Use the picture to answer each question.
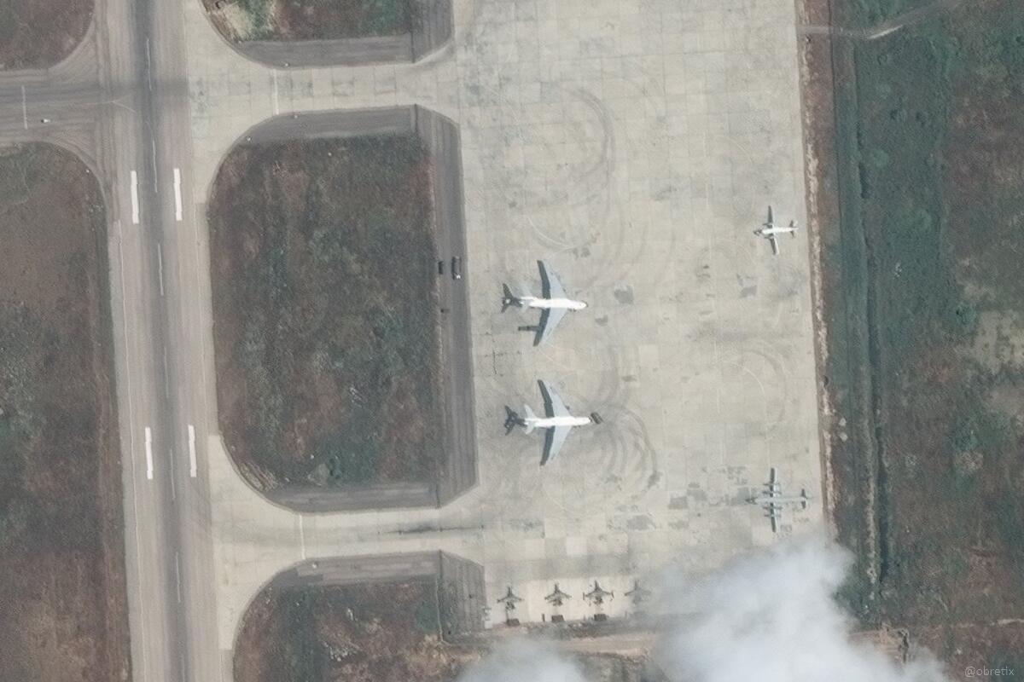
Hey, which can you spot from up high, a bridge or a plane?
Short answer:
plane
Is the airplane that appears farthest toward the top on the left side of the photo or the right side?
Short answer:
right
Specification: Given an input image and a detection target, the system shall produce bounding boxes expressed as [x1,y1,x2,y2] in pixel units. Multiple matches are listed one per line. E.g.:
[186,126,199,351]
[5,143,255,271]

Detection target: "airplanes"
[498,587,523,610]
[515,378,590,464]
[545,585,570,607]
[584,581,609,604]
[758,206,803,255]
[624,581,650,604]
[751,467,816,532]
[512,260,587,345]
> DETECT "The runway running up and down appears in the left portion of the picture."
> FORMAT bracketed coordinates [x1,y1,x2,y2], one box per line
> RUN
[97,0,233,682]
